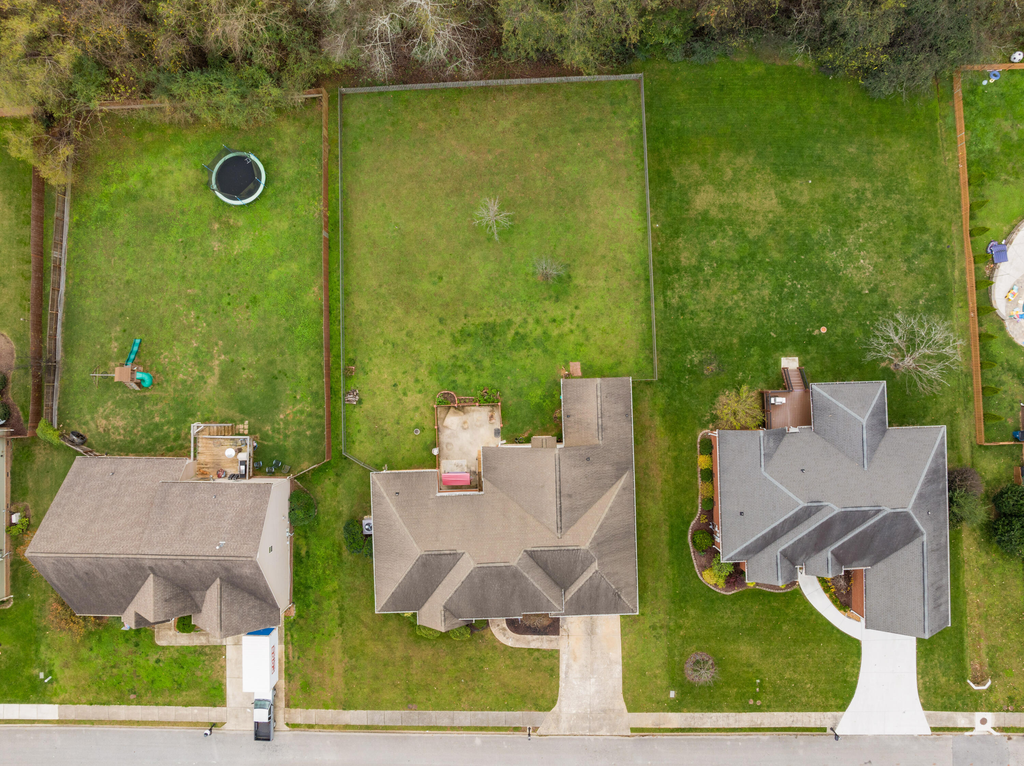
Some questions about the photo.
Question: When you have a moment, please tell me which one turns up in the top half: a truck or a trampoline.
trampoline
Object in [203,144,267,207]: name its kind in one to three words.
trampoline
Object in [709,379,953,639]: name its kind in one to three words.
house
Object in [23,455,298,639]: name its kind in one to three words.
house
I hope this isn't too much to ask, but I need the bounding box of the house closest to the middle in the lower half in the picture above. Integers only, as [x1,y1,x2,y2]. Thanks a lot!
[369,377,640,633]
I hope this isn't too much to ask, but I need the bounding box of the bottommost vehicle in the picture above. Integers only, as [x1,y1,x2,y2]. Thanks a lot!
[249,685,279,740]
